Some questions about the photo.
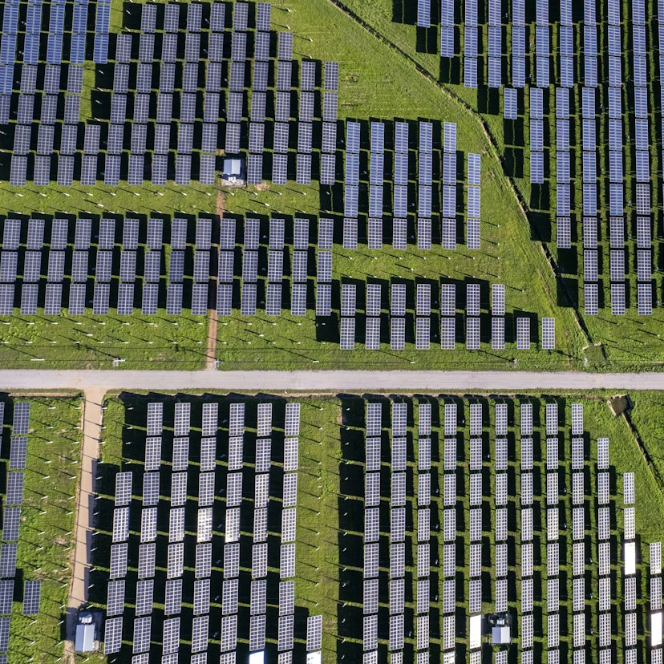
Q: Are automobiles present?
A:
No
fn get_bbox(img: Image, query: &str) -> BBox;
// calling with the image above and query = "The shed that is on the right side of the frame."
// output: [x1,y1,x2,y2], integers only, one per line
[491,623,509,645]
